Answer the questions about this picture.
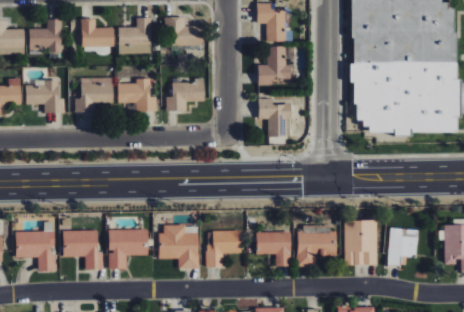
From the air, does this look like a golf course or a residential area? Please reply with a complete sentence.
The area seen from above is a residential area.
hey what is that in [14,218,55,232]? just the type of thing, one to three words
swimming pool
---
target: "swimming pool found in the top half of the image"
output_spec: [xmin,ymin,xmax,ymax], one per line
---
[22,68,48,84]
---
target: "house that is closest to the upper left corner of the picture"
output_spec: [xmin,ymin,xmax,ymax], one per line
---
[0,18,24,54]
